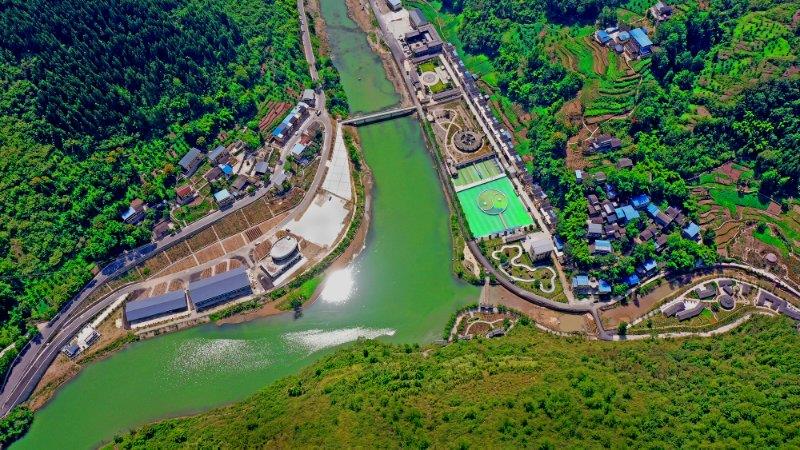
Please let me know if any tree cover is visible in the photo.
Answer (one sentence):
Yes, tree cover shows up in the scene.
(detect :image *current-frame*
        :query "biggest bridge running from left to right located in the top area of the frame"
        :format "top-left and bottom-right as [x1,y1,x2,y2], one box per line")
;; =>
[344,104,417,127]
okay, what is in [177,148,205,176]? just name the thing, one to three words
house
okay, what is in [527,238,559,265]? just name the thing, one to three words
building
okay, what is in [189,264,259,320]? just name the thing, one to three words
shed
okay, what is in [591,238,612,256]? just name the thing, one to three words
house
